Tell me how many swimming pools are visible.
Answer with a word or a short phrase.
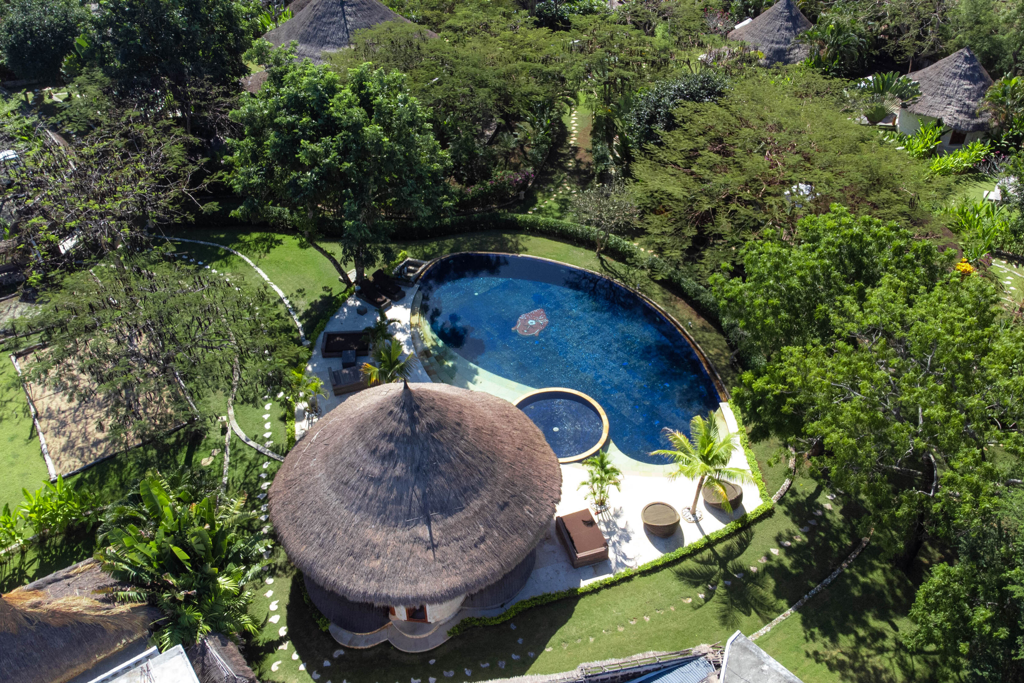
2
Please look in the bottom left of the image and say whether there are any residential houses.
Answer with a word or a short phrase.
Yes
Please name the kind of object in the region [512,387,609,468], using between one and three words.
swimming pool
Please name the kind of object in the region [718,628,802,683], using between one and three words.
house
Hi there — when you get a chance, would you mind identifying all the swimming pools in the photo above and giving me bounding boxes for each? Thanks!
[411,250,728,477]
[512,387,609,468]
